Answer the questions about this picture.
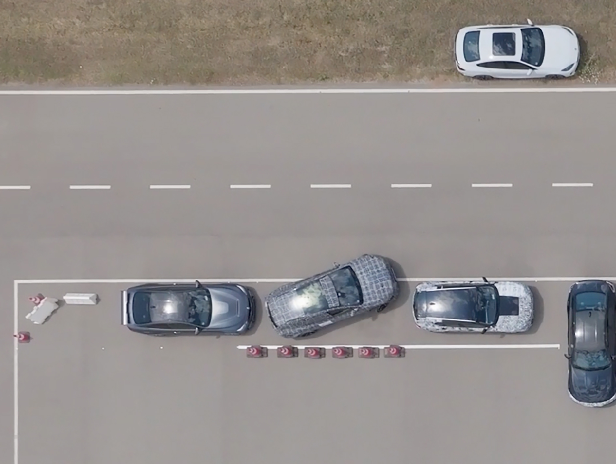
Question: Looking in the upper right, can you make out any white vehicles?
Yes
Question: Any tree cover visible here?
No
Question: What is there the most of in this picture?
paved ground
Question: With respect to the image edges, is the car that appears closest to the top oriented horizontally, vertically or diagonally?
horizontally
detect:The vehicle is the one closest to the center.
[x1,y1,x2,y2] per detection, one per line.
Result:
[264,254,401,339]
